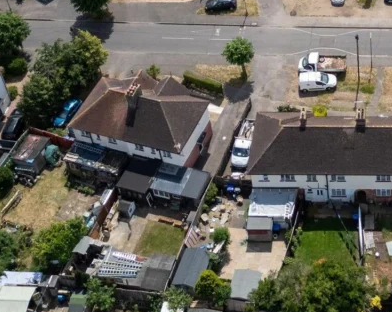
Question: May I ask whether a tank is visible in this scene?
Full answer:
No, I can't see a single tank in this photo.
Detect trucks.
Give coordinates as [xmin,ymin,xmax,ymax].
[231,122,256,165]
[297,51,349,76]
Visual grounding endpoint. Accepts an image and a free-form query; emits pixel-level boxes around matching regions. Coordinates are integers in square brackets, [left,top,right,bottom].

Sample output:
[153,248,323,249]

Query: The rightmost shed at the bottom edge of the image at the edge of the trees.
[231,264,262,312]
